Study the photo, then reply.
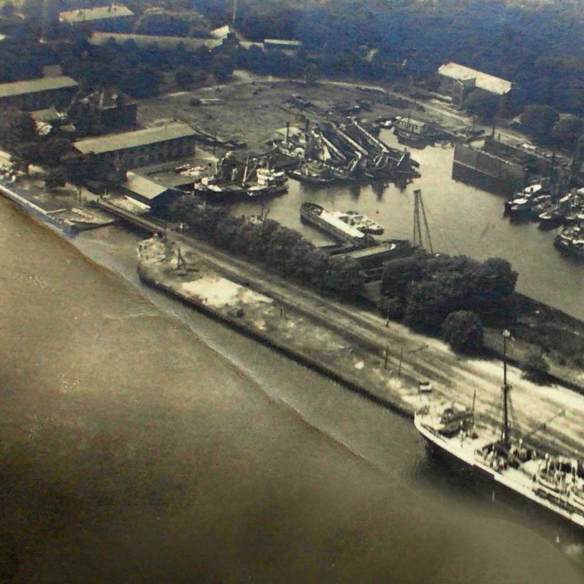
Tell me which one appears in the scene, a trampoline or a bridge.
bridge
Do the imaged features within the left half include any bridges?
Yes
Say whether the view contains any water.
Yes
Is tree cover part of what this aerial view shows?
Yes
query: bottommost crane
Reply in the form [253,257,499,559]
[410,189,452,260]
